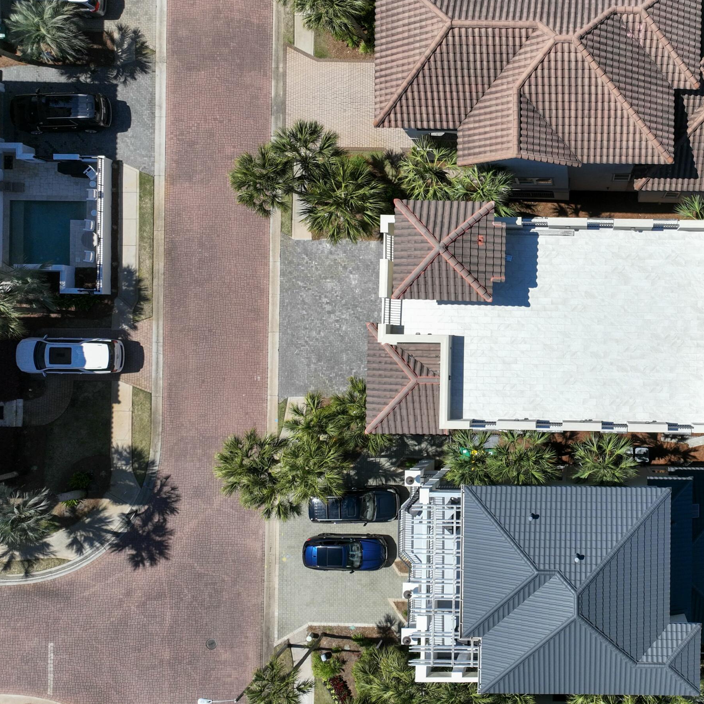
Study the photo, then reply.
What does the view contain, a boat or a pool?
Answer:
pool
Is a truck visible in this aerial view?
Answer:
No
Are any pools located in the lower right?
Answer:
No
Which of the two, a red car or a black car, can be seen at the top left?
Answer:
black car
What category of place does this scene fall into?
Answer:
residential area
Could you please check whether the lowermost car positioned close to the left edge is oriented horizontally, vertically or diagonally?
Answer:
horizontally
